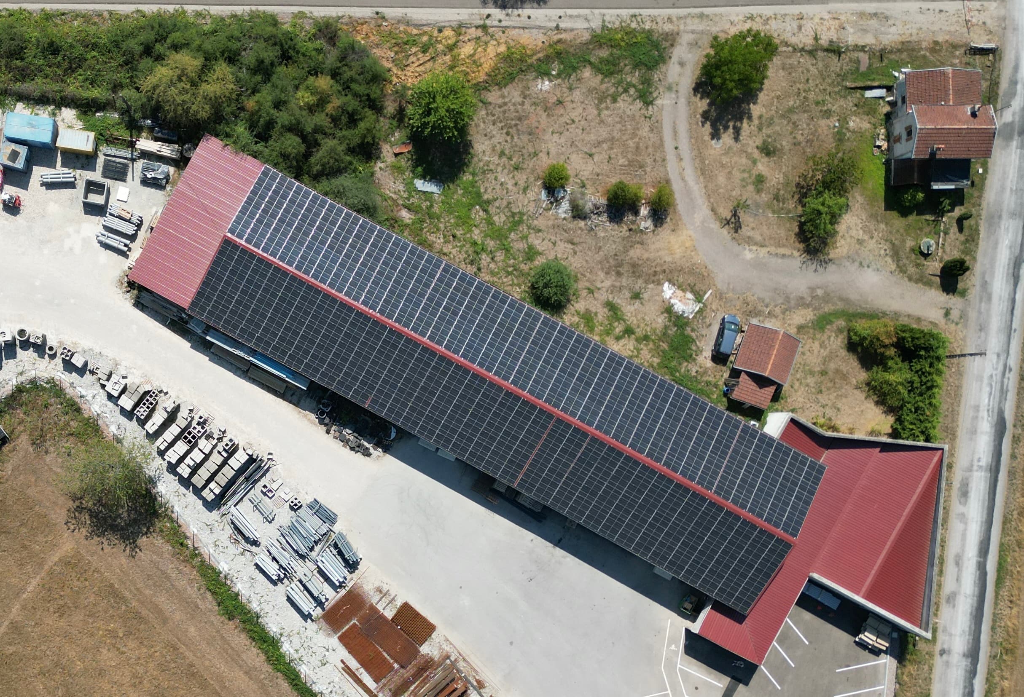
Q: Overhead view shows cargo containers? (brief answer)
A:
Yes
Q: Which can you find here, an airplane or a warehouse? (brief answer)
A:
warehouse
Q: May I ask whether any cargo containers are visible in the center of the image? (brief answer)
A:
No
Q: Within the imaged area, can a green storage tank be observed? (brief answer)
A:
No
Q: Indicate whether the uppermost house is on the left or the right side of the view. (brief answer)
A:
right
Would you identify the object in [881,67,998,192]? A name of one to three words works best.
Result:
house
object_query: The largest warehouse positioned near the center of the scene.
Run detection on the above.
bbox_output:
[128,134,829,616]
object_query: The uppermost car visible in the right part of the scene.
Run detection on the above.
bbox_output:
[711,315,741,359]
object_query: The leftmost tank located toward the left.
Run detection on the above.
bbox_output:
[81,178,110,208]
